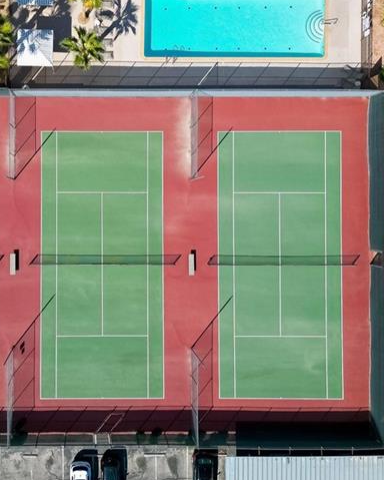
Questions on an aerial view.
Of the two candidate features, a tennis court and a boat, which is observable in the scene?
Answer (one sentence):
Looking from above, you can make out a tennis court.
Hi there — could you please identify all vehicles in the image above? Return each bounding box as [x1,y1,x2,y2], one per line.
[70,458,92,480]
[192,450,215,480]
[100,451,123,480]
